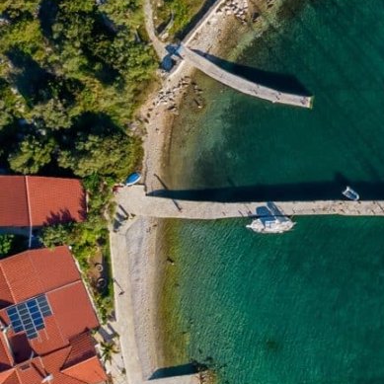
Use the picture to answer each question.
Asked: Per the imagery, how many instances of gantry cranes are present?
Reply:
0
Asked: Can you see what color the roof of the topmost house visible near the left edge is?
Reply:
red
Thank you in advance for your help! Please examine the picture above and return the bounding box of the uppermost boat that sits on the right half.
[342,184,358,196]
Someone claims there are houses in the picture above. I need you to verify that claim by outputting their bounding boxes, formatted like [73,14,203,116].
[0,245,112,384]
[0,175,90,228]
